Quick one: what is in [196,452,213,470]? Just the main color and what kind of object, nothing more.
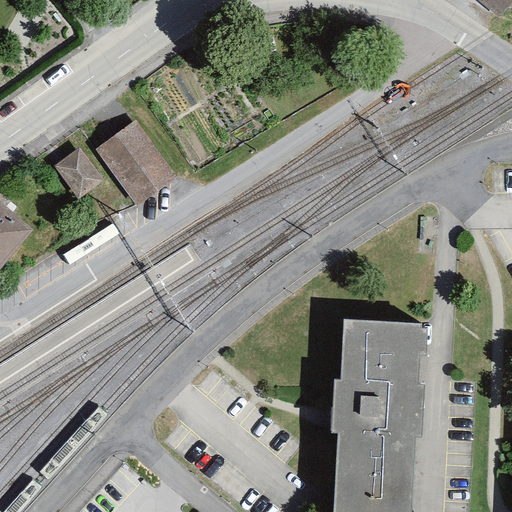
red car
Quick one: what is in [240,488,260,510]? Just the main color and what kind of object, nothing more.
white car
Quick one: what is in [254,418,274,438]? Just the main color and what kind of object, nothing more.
white car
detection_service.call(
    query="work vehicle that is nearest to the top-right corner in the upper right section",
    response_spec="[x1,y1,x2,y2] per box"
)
[384,83,412,104]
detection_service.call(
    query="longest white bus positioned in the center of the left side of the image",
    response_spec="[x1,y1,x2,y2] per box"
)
[64,222,121,264]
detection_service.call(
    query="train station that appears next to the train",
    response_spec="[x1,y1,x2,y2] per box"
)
[0,243,200,388]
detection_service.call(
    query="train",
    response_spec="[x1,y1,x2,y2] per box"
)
[8,405,107,512]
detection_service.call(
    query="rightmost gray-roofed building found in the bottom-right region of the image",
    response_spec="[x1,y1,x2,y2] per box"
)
[331,320,429,512]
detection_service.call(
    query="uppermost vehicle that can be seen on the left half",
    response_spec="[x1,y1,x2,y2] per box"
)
[46,64,71,85]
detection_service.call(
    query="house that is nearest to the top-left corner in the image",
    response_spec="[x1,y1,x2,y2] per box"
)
[54,148,104,198]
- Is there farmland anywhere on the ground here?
No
